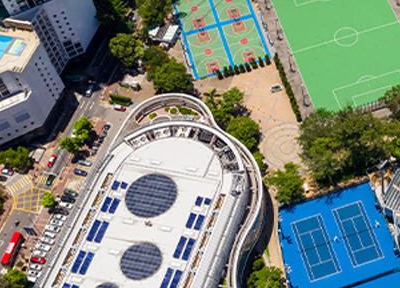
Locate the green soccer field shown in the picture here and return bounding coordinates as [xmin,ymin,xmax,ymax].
[272,0,400,114]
